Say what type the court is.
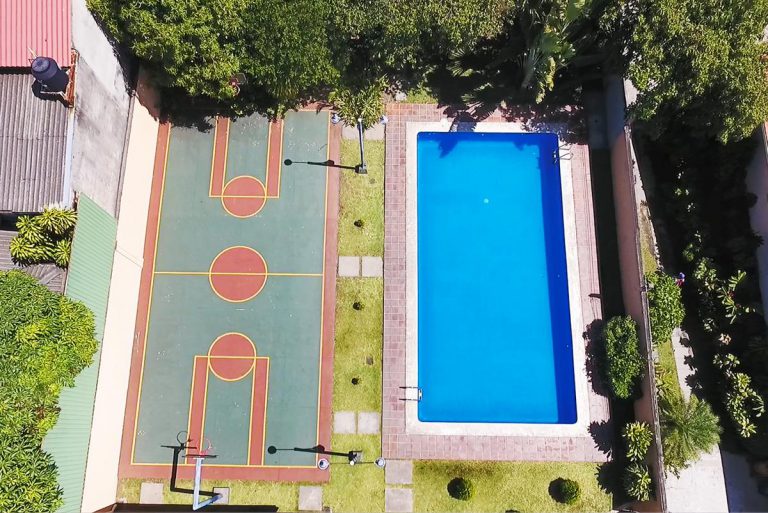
basketball court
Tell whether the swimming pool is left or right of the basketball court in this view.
right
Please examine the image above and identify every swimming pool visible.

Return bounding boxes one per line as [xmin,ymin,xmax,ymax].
[406,122,591,436]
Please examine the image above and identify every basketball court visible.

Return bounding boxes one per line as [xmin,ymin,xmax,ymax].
[119,101,340,481]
